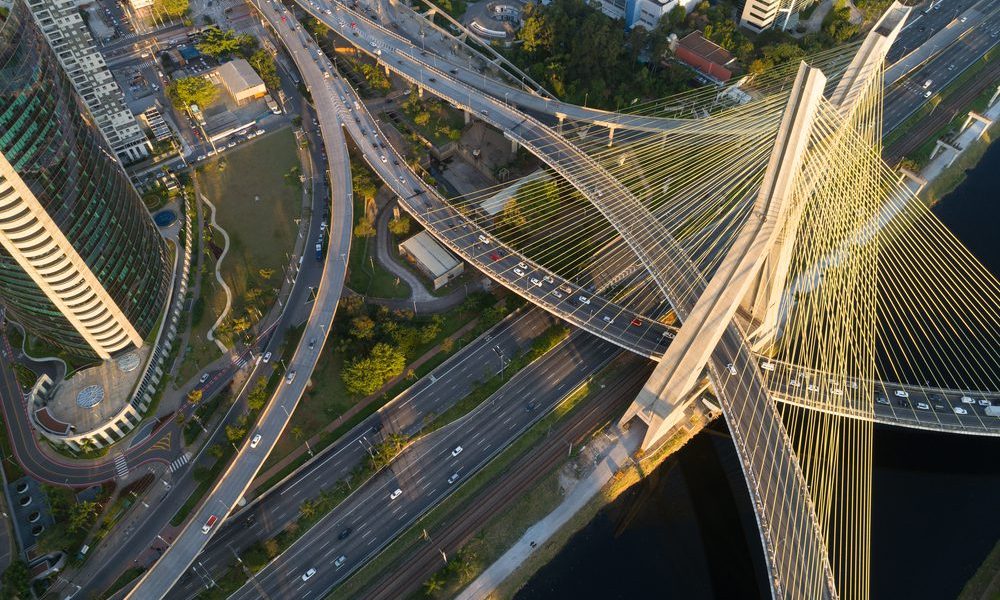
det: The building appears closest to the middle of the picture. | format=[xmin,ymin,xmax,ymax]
[397,228,465,286]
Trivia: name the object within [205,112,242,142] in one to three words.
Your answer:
shed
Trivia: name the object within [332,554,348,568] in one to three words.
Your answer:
vehicle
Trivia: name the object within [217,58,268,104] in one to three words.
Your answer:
building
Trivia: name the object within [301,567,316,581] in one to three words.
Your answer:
car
